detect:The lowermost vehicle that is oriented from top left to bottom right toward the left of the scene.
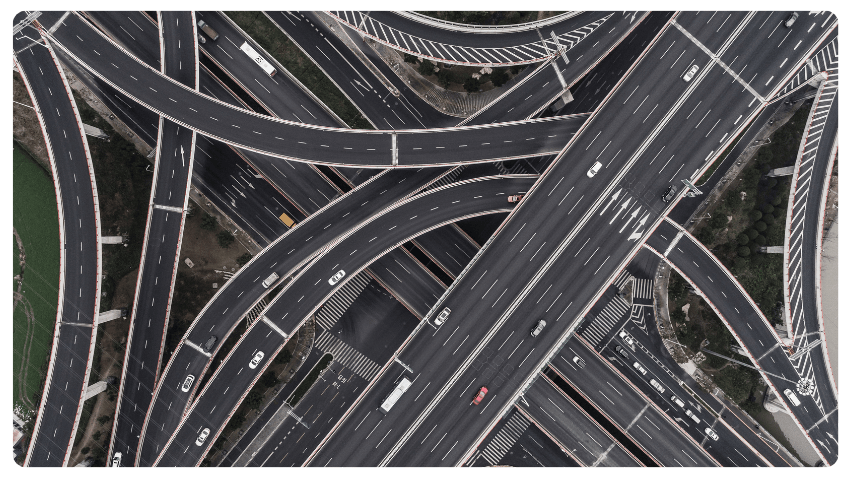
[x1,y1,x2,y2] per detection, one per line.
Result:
[277,210,299,229]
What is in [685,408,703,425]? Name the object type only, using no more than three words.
vehicle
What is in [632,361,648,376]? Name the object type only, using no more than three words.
car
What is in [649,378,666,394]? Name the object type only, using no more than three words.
car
